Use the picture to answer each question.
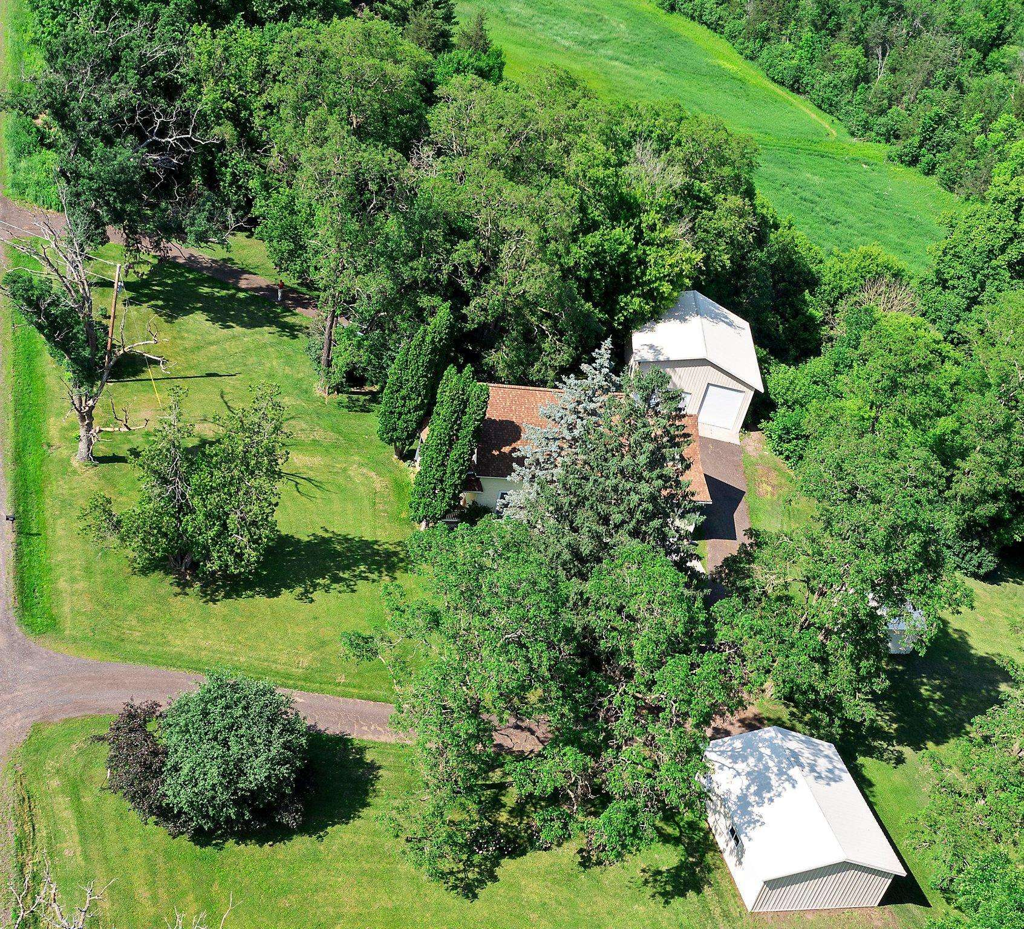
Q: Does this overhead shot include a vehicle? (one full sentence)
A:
No, no vehicle is visible in the scene.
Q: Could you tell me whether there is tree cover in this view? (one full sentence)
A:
Yes, some tree cover is visible.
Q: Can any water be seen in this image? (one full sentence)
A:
No, water can't be seen anywhere here.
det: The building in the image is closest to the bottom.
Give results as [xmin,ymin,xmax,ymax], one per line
[695,728,906,914]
